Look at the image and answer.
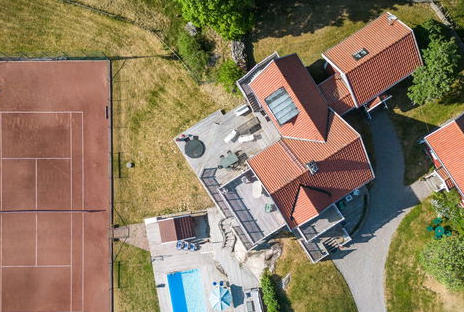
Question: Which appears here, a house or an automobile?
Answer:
house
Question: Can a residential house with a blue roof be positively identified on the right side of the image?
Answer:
No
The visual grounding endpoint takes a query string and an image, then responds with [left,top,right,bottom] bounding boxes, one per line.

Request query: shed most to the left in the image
[157,215,196,243]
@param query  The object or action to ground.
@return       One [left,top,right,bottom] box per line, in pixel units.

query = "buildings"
[157,215,196,243]
[409,112,464,205]
[219,51,376,263]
